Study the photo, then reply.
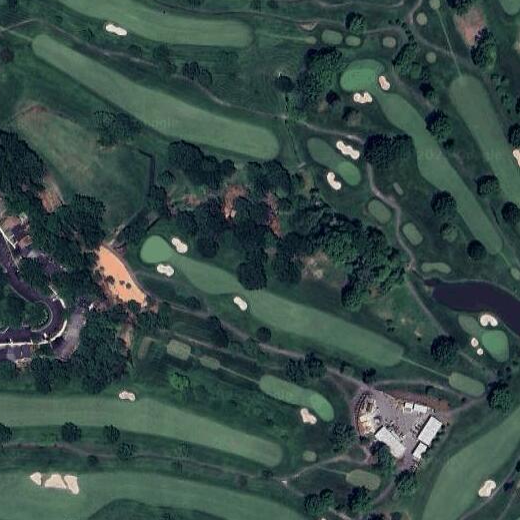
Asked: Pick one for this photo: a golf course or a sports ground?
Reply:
golf course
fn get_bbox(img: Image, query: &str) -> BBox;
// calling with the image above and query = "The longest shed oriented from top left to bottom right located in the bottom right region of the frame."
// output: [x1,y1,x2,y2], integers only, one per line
[375,426,408,458]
